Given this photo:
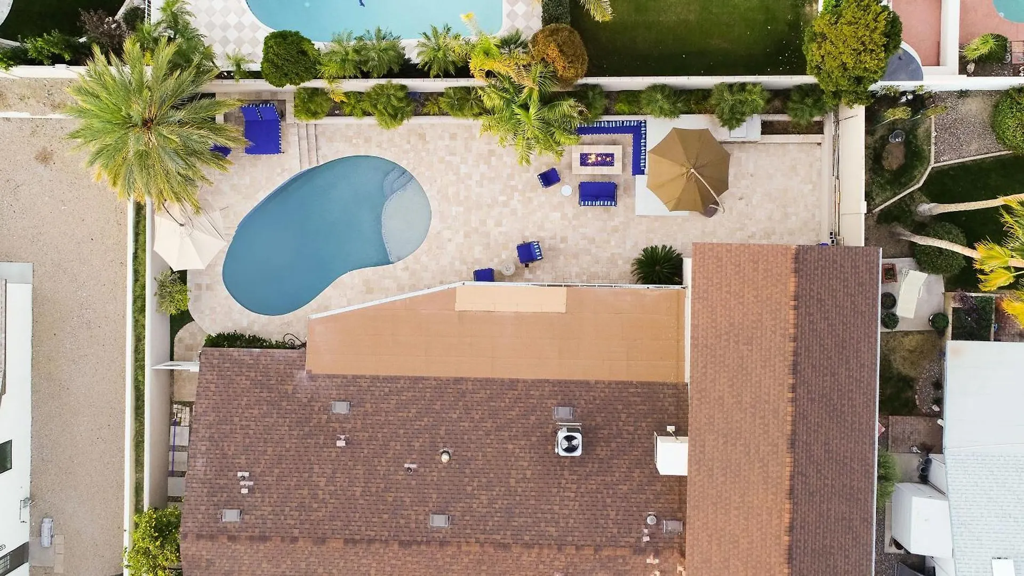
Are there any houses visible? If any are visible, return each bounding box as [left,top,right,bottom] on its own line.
[927,341,1024,576]
[0,280,43,576]
[181,244,883,576]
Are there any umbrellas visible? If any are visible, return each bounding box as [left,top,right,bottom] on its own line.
[646,128,730,217]
[154,198,227,271]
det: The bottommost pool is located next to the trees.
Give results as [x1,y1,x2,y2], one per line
[221,153,433,317]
